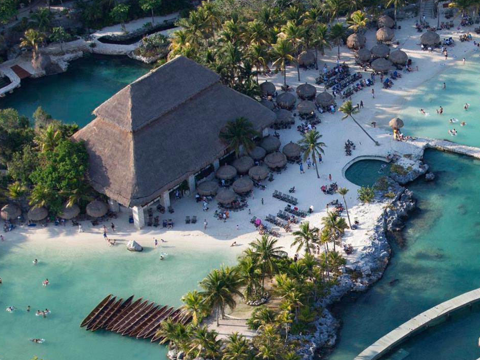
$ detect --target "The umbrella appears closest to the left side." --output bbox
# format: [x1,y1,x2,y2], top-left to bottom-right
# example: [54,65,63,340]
[0,205,23,226]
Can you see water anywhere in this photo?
Yes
